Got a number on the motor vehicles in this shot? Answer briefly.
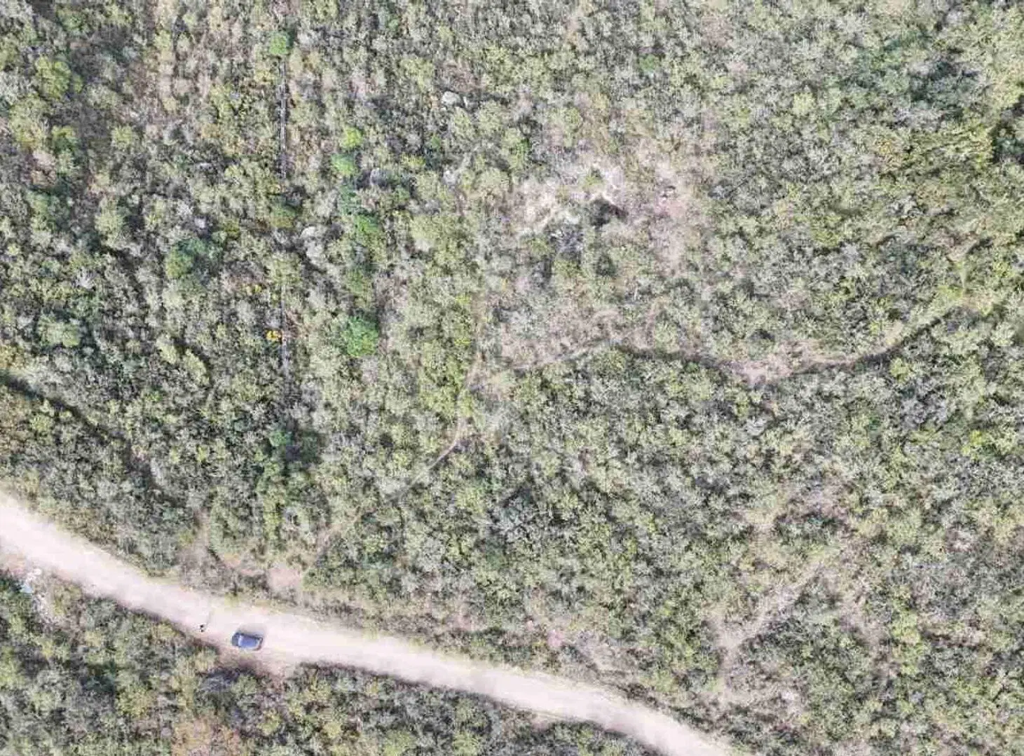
1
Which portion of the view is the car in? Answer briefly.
bottom left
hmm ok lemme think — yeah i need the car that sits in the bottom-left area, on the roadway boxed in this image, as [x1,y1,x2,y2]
[231,630,264,650]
